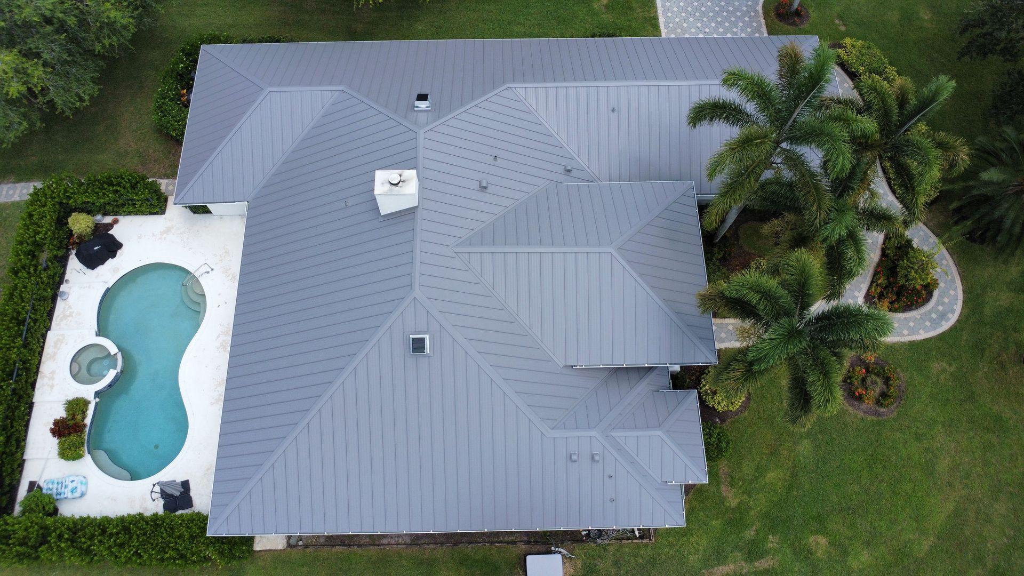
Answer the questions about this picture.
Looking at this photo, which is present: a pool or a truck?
pool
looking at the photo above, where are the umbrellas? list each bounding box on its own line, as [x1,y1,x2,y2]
[150,479,194,513]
